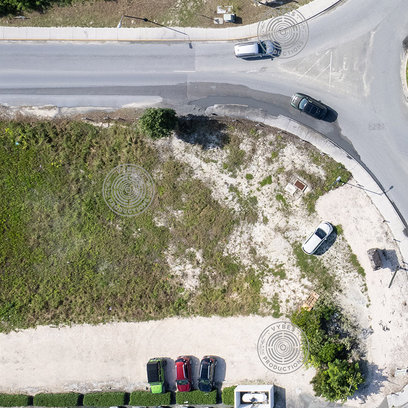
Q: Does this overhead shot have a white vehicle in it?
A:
Yes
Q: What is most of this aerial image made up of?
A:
paved ground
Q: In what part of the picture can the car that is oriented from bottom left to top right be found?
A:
right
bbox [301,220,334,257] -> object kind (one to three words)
car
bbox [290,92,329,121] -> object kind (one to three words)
car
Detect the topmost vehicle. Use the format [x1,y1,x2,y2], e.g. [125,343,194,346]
[234,42,281,60]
